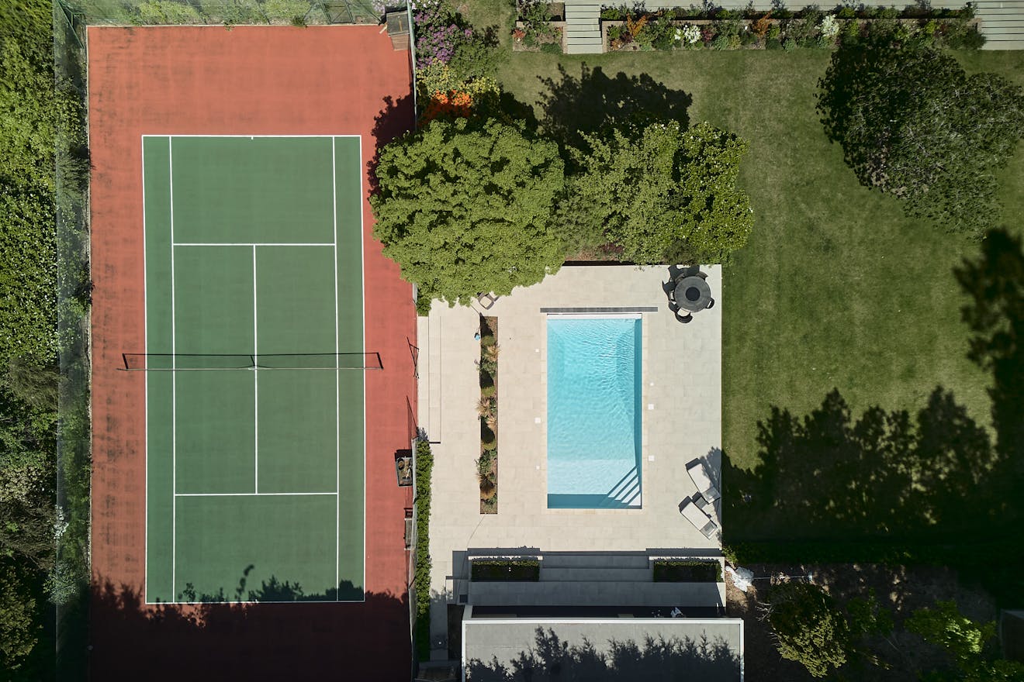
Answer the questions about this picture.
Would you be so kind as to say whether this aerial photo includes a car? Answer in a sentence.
No, the scene contains no car.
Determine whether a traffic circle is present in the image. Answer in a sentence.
No, there's no traffic circle here.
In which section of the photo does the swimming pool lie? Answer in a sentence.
The swimming pool is located in the center region of the scene.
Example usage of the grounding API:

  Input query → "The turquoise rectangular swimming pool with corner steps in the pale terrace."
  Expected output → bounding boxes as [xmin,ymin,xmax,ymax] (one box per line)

[541,308,657,514]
